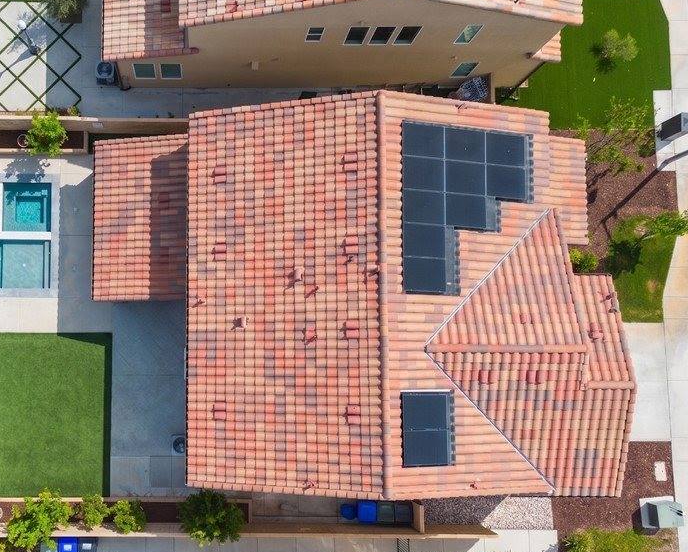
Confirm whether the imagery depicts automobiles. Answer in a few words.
No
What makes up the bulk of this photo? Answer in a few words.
buildings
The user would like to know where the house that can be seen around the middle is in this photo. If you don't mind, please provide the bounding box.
[90,90,643,498]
